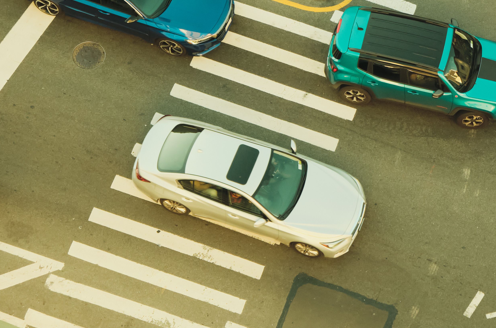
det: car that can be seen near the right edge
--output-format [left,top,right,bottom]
[322,2,496,130]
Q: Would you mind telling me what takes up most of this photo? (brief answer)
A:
paved ground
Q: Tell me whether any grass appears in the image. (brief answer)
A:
No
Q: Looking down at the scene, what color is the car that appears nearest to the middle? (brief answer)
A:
white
